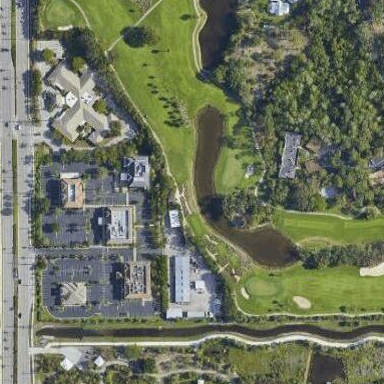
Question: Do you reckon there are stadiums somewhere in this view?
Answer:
No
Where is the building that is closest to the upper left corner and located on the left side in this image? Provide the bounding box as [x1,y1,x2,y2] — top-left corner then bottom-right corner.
[47,61,110,135]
